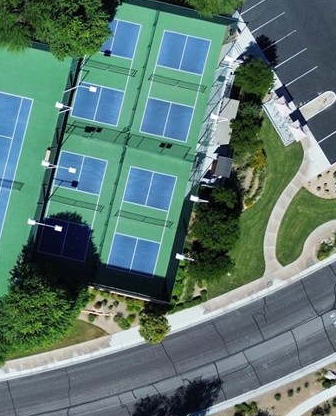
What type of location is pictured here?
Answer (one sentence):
What you see here is a sports ground.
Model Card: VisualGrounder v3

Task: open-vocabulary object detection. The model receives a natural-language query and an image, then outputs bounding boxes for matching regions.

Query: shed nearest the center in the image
[207,156,233,178]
